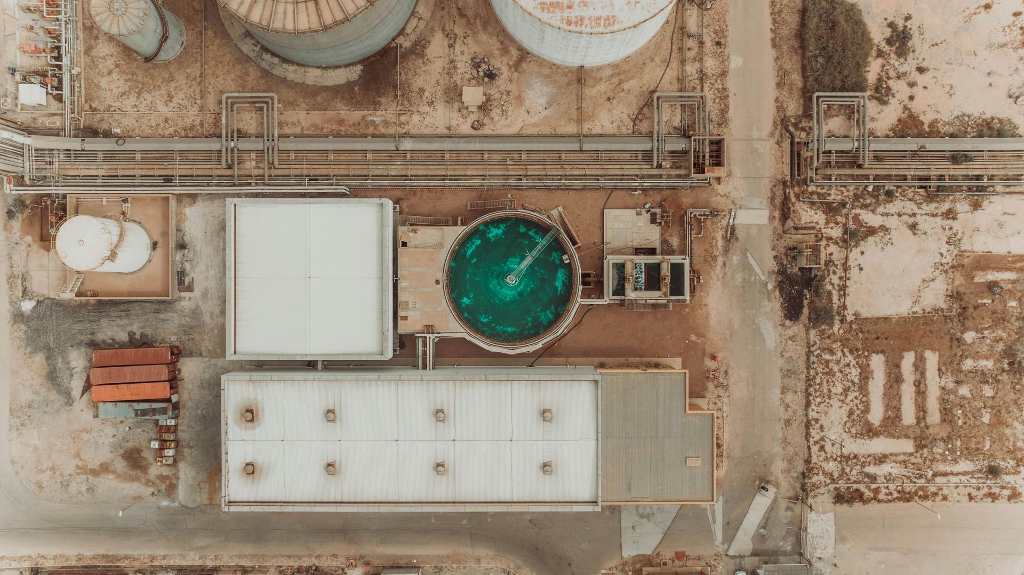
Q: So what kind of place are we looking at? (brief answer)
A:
industrial area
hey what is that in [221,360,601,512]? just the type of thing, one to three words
building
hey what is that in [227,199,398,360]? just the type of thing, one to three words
warehouse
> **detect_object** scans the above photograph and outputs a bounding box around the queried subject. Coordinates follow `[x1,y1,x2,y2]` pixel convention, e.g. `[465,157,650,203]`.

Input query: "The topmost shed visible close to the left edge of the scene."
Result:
[19,84,53,107]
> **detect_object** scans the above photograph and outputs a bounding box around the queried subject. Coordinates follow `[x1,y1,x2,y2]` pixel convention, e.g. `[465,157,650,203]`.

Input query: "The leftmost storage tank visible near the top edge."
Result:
[86,0,189,65]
